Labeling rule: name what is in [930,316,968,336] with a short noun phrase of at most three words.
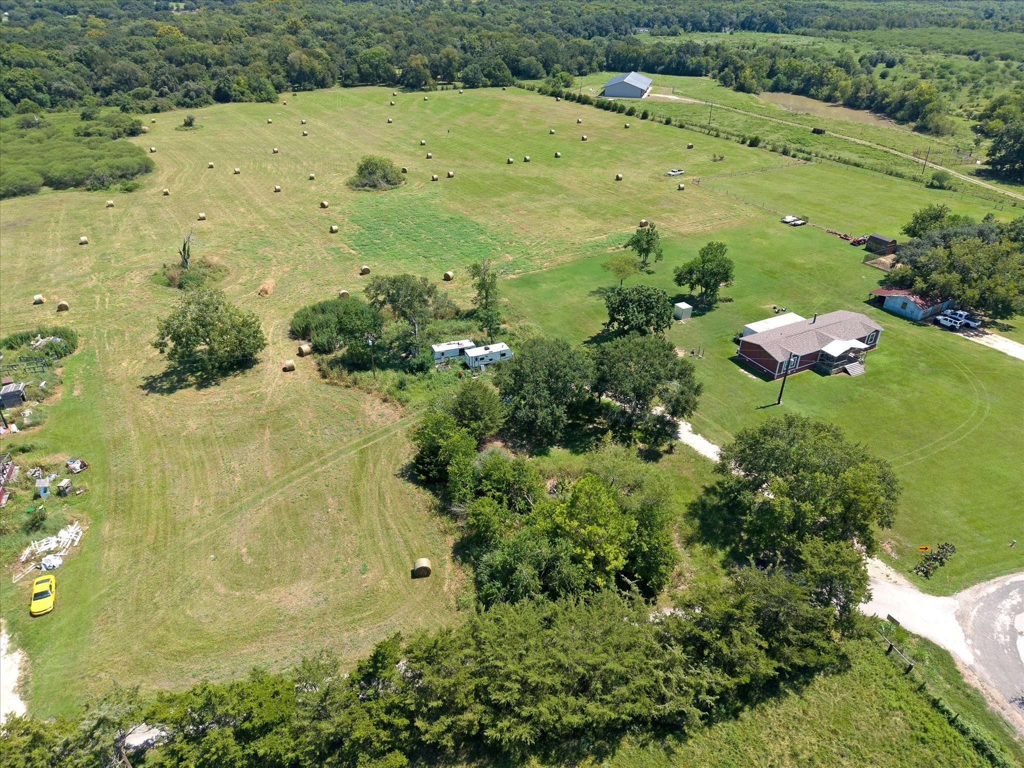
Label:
car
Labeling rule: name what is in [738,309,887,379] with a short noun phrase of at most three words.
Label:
house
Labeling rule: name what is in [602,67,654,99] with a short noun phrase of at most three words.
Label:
building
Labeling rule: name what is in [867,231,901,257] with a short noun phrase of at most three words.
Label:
shed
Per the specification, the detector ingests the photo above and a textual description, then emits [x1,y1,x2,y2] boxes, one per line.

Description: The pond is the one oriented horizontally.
[762,96,898,132]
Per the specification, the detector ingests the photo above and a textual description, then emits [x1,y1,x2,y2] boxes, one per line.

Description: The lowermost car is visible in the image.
[25,568,62,616]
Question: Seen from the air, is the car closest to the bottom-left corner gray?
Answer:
No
